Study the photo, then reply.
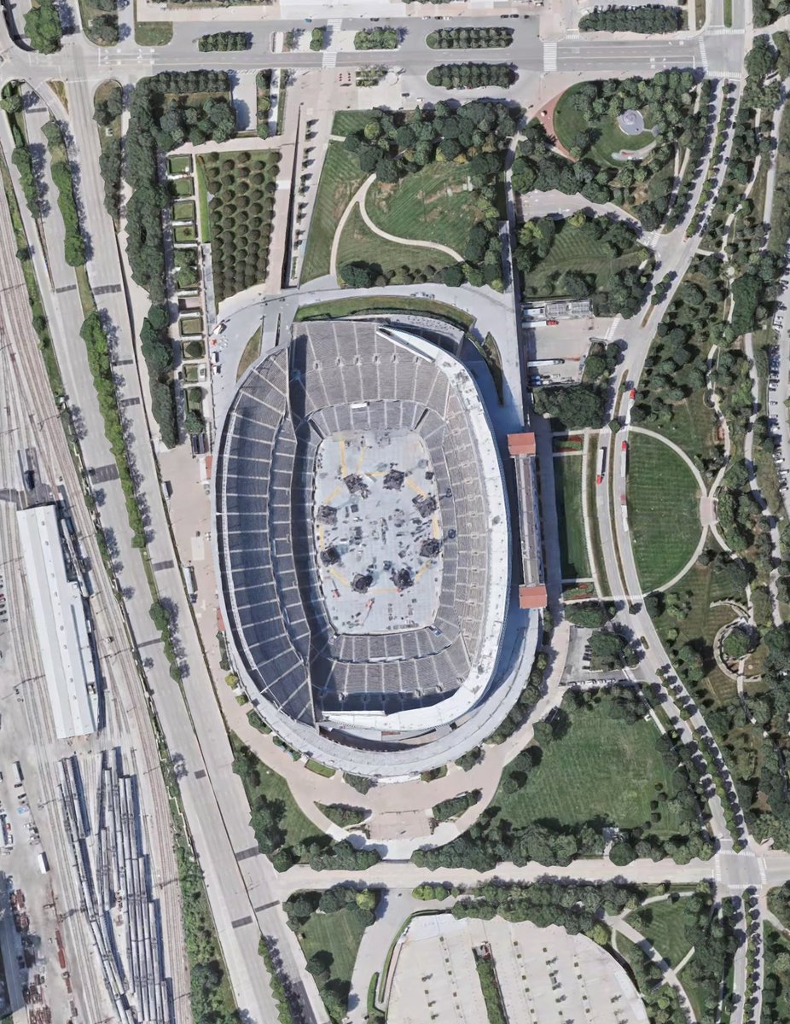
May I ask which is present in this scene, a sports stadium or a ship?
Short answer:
sports stadium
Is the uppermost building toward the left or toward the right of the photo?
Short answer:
right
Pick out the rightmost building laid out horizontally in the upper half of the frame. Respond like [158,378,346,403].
[523,297,594,318]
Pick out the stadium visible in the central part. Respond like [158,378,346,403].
[210,316,540,775]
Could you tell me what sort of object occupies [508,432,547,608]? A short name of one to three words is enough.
building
